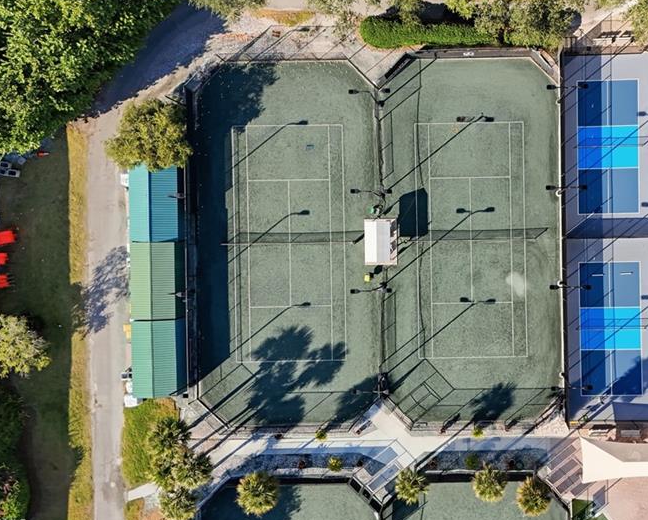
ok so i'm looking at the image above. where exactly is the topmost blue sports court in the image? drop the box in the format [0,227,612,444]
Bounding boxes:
[573,79,645,214]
